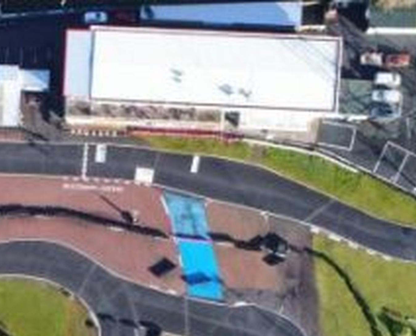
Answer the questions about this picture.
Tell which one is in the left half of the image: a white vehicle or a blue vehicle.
blue vehicle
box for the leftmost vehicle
[80,5,113,23]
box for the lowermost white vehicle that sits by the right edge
[373,86,405,102]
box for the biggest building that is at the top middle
[88,24,344,126]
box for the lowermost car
[372,101,402,116]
